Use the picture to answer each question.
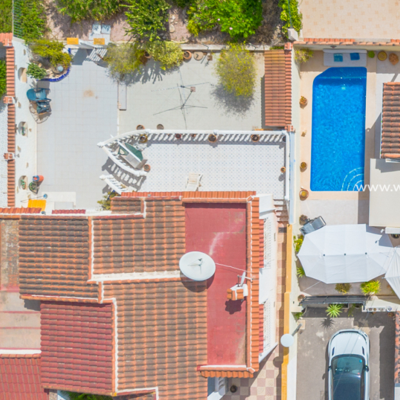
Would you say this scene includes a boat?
No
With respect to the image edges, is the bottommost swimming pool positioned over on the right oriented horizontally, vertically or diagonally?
vertically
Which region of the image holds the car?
bottom right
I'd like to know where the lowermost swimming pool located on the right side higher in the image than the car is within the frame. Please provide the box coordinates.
[311,67,366,191]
